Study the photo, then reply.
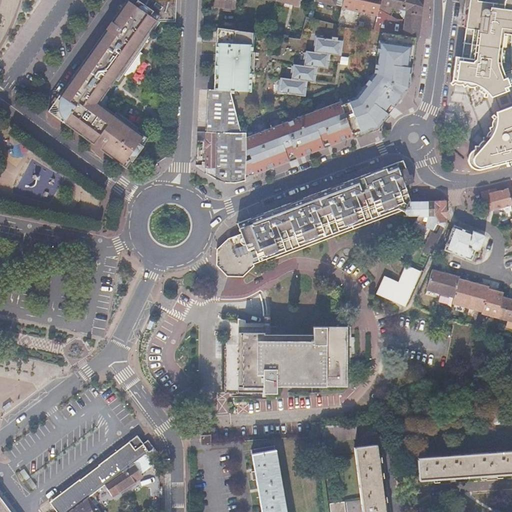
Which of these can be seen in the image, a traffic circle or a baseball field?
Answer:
traffic circle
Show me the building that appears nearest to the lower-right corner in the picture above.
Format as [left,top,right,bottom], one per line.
[418,452,512,483]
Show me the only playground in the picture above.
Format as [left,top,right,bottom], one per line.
[0,130,102,214]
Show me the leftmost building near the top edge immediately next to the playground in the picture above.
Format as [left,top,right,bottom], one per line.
[48,1,160,169]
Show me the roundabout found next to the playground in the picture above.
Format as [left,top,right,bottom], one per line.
[128,184,212,267]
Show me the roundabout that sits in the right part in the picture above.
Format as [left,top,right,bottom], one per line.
[394,115,436,157]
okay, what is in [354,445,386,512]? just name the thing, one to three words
building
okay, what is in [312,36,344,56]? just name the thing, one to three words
house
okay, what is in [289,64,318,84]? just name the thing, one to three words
house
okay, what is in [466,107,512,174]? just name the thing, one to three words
building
